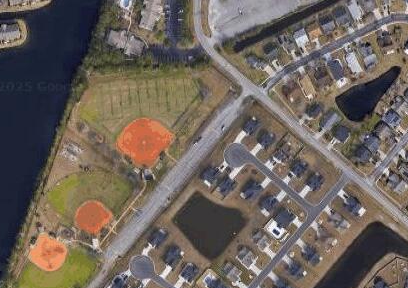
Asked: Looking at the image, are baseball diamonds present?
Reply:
Yes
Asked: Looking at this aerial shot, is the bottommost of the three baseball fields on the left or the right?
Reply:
left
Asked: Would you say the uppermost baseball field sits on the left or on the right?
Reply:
left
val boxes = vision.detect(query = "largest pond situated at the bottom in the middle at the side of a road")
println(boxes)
[173,191,243,261]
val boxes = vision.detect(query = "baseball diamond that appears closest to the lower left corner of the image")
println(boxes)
[18,231,101,288]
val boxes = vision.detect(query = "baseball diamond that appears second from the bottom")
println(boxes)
[48,168,134,235]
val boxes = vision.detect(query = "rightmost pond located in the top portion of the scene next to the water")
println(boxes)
[336,66,400,121]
